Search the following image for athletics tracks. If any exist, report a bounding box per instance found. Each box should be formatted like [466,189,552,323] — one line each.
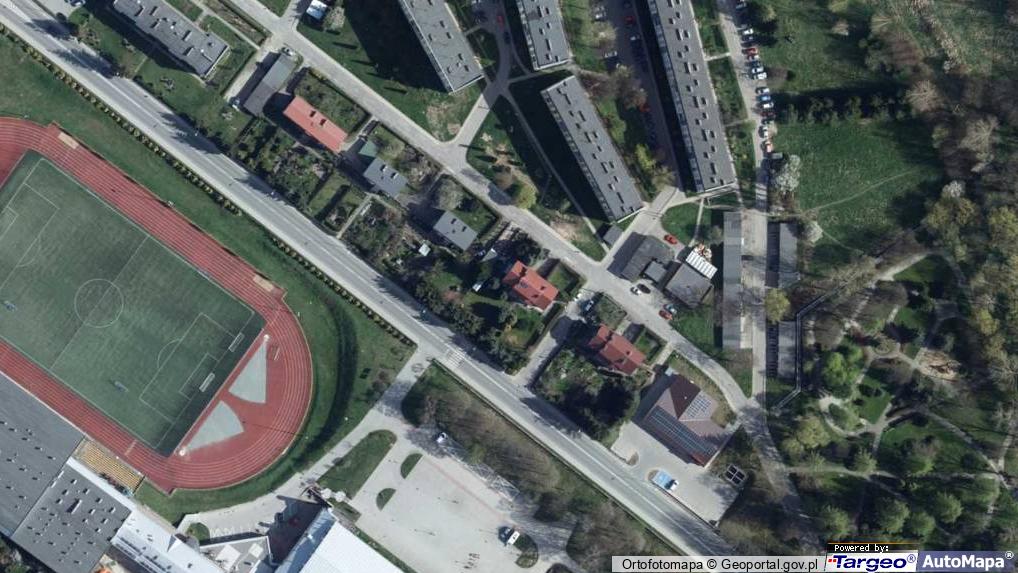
[0,115,313,501]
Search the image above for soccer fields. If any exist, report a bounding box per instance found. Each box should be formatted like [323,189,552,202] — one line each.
[0,147,267,459]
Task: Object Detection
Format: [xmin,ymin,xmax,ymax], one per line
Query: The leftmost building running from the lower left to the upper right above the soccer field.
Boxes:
[243,54,293,116]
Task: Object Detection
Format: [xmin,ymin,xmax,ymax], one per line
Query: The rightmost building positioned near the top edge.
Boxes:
[644,0,736,192]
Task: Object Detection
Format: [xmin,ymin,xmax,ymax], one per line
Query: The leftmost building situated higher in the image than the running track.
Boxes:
[108,0,229,79]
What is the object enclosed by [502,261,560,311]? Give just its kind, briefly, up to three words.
house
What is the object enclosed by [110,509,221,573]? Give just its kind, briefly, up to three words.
building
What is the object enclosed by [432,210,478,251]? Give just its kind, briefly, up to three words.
house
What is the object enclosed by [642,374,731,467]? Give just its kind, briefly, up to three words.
building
